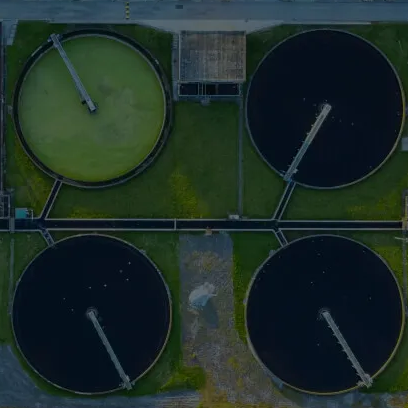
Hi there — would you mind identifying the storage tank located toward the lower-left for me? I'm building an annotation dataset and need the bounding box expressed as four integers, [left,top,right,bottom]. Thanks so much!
[12,234,173,394]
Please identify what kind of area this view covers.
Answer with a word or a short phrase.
industrial area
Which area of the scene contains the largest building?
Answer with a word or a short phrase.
top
